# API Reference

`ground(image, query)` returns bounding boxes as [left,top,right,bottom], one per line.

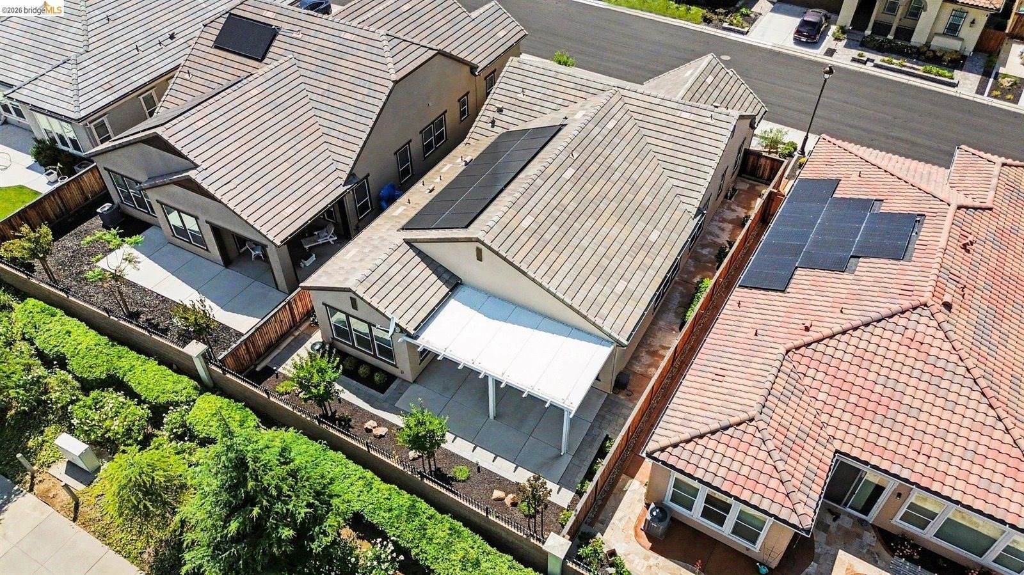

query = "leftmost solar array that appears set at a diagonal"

[402,123,566,229]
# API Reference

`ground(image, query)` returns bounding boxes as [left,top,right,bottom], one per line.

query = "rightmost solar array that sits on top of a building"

[741,176,924,288]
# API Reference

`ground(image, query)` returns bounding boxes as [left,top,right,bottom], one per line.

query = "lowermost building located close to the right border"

[642,133,1024,575]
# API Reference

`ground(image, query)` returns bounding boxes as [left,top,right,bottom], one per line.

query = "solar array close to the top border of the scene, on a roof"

[209,14,287,64]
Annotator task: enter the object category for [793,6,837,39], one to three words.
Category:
car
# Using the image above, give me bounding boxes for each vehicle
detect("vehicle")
[292,0,354,12]
[793,6,837,39]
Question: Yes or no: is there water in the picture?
No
